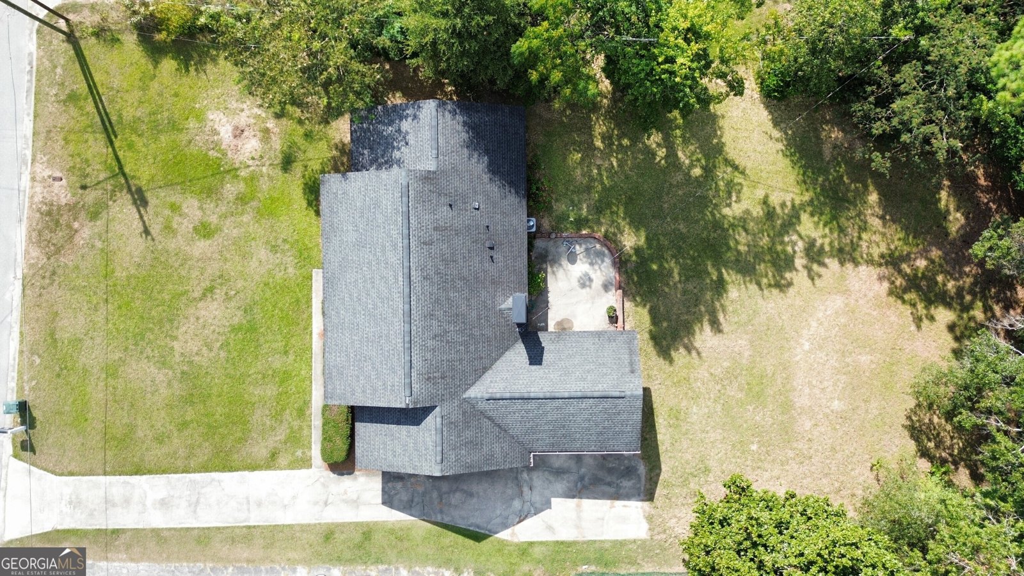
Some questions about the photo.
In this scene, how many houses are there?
1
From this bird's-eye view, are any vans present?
No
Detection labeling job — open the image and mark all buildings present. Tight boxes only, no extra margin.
[320,101,644,476]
